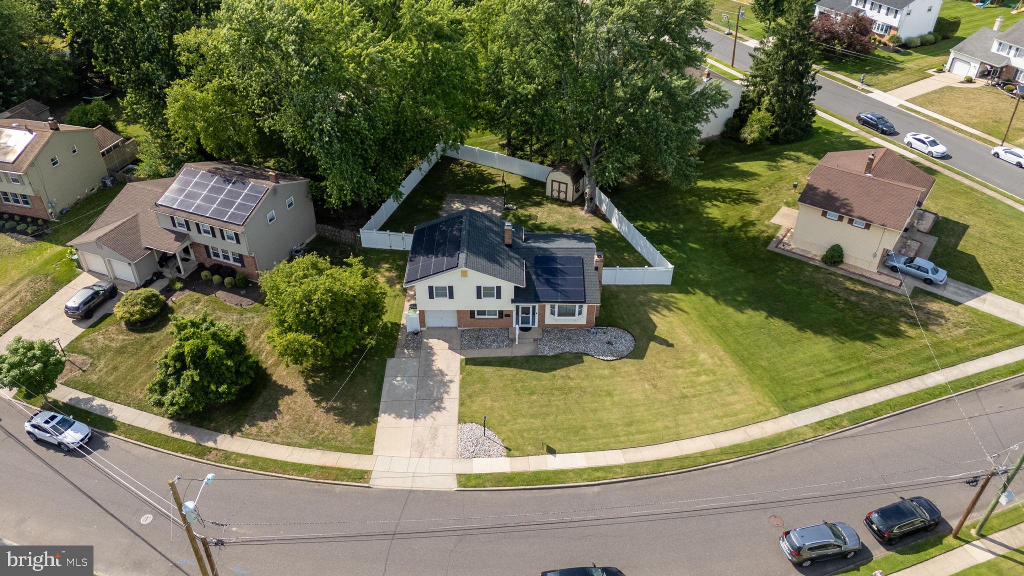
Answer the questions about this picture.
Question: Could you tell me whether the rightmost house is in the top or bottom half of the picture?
top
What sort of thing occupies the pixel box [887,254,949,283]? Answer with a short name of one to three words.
car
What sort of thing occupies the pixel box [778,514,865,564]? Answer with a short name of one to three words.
car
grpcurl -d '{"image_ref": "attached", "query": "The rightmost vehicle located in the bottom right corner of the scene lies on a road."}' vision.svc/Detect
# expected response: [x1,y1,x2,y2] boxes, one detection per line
[864,493,944,544]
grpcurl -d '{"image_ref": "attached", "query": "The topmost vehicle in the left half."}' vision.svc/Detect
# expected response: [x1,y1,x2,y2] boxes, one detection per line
[62,282,116,318]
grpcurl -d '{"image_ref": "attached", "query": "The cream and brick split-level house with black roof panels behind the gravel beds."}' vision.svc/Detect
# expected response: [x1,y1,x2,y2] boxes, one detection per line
[401,208,607,339]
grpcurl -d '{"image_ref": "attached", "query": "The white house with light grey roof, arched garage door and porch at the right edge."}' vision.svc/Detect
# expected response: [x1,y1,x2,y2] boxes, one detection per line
[946,14,1024,88]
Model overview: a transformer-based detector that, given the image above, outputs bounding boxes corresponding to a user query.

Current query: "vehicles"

[994,148,1024,167]
[778,514,865,564]
[62,282,116,318]
[859,113,895,133]
[887,254,949,283]
[20,407,91,449]
[907,135,947,156]
[864,493,944,544]
[543,561,625,576]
